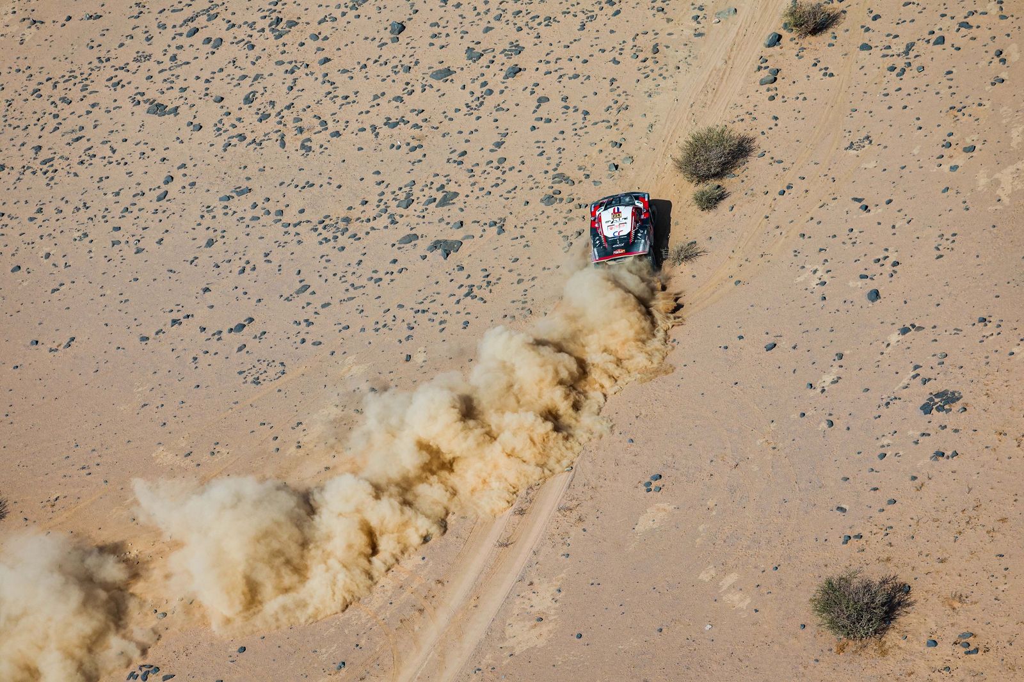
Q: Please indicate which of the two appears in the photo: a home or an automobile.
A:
automobile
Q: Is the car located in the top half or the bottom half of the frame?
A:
top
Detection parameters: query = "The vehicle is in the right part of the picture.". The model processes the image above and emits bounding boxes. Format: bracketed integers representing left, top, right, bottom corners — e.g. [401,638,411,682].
[590,192,657,282]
